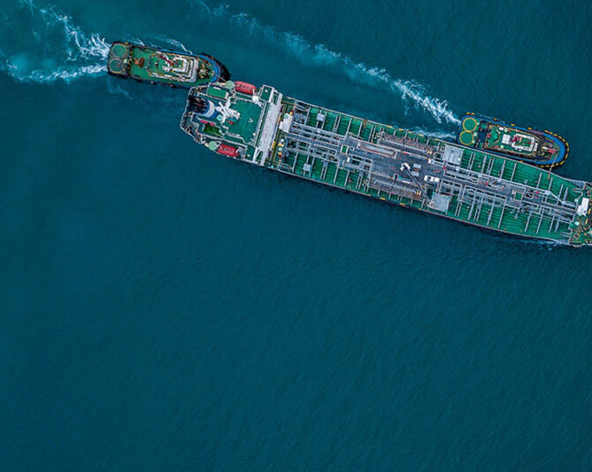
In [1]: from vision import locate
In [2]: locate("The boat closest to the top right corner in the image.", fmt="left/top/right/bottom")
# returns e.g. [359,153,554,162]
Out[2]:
[456,112,568,169]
